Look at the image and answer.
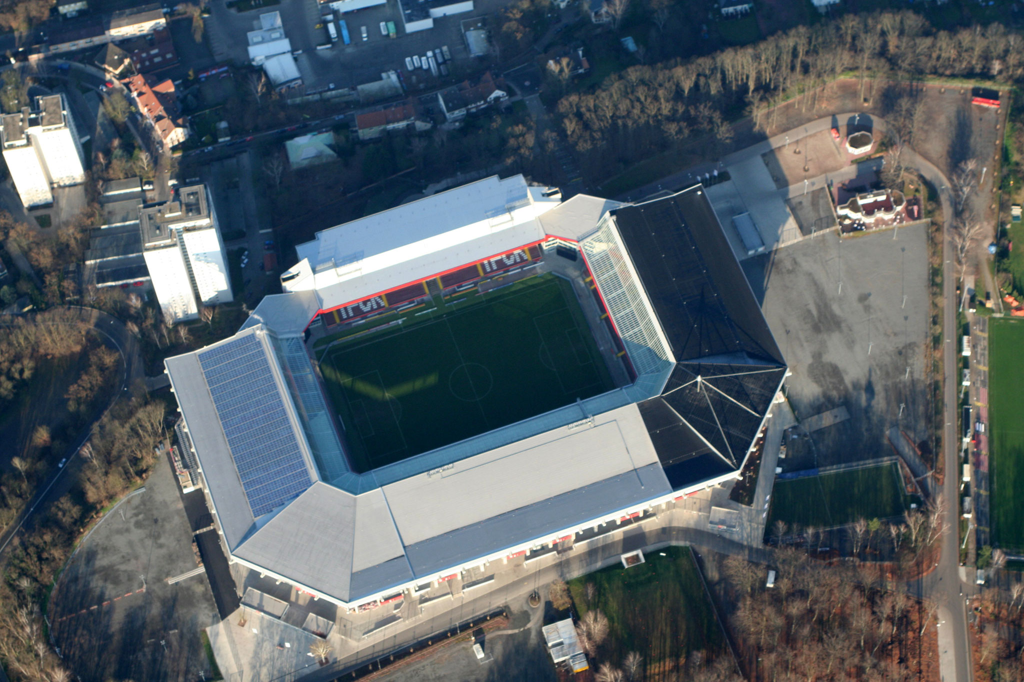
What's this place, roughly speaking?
sports ground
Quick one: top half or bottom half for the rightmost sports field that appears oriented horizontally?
bottom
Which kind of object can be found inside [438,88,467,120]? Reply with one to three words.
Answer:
house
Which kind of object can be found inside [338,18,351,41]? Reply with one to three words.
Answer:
vehicle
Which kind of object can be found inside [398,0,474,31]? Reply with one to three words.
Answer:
building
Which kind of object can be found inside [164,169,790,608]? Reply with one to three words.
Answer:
stadium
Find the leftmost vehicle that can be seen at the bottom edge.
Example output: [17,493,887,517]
[473,642,485,660]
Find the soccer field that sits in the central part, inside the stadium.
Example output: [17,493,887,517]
[318,271,616,472]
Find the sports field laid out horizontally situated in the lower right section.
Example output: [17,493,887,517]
[764,456,912,547]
